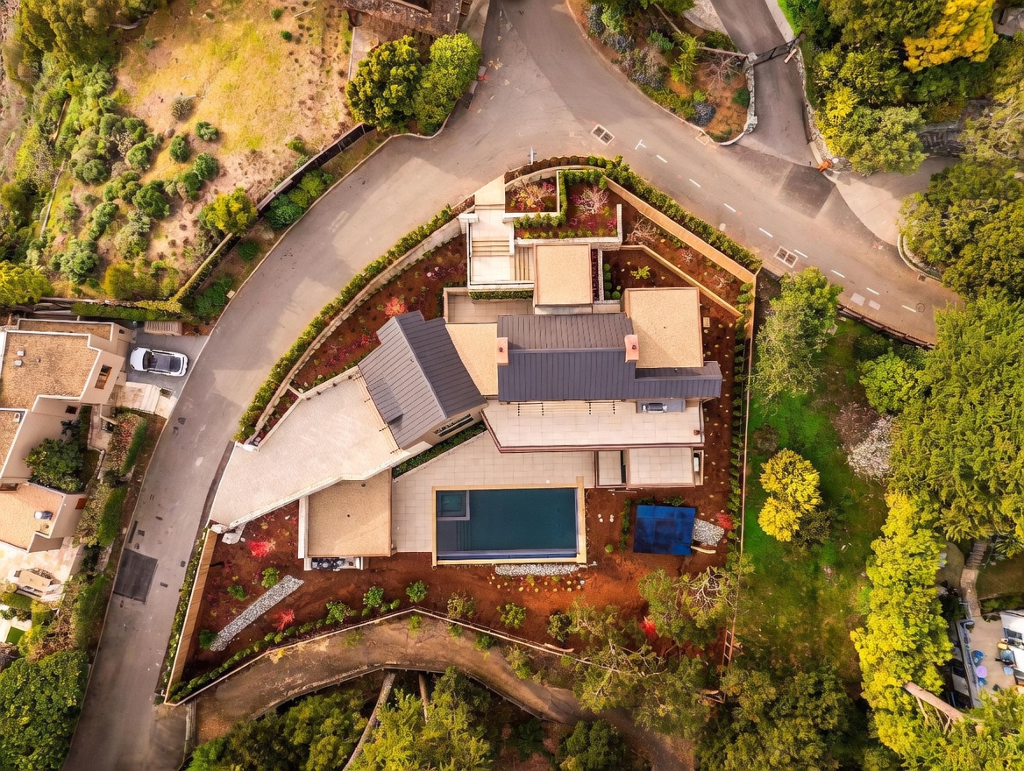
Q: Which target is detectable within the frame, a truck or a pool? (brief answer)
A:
pool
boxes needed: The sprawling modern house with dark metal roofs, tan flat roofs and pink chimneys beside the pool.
[348,243,723,487]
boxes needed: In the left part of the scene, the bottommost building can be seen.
[298,468,396,558]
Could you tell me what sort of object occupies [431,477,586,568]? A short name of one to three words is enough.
swimming pool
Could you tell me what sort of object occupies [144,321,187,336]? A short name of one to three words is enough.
building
